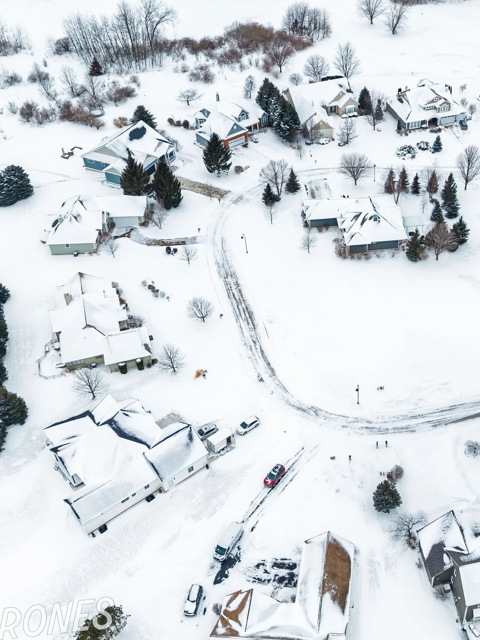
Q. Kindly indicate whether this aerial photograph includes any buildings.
Yes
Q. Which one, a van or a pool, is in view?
van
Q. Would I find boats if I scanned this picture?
No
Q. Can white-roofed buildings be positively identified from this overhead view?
Yes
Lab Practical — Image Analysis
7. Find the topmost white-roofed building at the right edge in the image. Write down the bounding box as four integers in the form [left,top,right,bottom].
[386,76,468,131]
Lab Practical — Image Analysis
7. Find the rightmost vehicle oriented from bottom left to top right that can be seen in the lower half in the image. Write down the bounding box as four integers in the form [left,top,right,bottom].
[262,459,290,490]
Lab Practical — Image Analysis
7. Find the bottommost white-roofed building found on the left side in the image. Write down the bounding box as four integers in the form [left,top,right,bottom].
[34,390,211,535]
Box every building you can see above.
[34,390,211,535]
[183,92,268,150]
[417,520,480,640]
[36,276,154,381]
[81,124,177,190]
[212,534,354,640]
[386,76,468,131]
[302,195,425,255]
[46,186,150,256]
[289,74,359,138]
